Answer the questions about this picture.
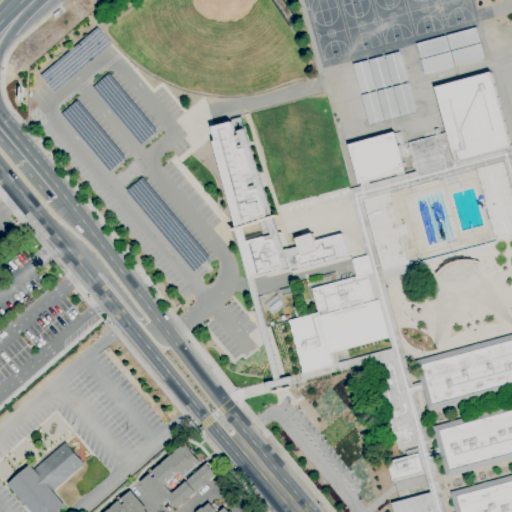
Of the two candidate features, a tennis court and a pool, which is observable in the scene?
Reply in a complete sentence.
There is a pool in the scene.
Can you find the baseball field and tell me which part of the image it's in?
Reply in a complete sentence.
You can find the baseball field in the top area of the picture.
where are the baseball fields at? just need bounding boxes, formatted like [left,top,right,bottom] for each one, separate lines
[110,0,308,95]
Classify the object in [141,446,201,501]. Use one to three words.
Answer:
building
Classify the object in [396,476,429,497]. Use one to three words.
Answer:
building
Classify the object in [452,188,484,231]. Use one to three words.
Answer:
swimming pool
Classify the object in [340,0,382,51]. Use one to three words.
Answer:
basketball court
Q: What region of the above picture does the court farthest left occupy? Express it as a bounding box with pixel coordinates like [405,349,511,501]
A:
[308,0,351,60]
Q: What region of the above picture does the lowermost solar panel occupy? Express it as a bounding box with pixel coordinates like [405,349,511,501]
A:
[130,177,208,270]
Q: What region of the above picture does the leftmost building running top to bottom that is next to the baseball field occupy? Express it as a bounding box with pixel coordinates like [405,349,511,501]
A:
[218,118,266,222]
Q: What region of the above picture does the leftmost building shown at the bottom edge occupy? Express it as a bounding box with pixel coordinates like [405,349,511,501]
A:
[7,444,82,512]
